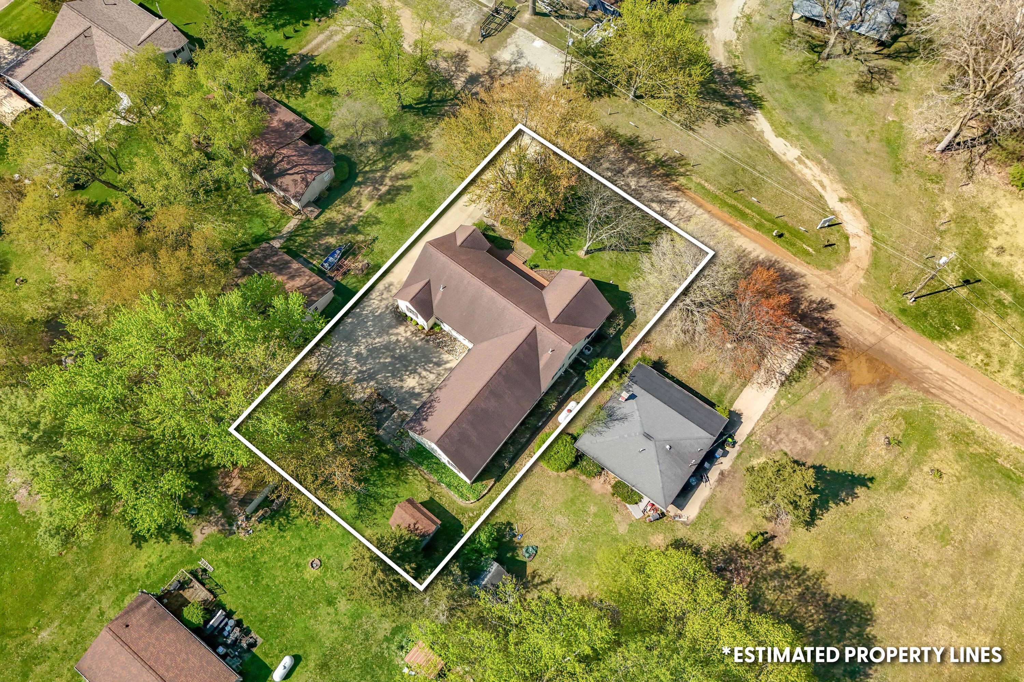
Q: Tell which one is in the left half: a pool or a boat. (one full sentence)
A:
There is a boat in the left half.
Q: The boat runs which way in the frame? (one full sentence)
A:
The boat runs at an angle in the image.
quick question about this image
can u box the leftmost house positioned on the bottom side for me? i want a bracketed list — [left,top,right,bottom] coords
[76,592,247,682]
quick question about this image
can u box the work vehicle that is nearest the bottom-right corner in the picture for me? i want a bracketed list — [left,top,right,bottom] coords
[723,438,736,454]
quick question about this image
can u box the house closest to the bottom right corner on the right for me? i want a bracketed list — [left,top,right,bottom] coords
[574,358,730,511]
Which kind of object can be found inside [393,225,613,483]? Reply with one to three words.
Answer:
house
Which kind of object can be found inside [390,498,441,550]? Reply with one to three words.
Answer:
shed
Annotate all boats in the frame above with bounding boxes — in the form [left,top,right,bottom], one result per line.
[314,238,345,271]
